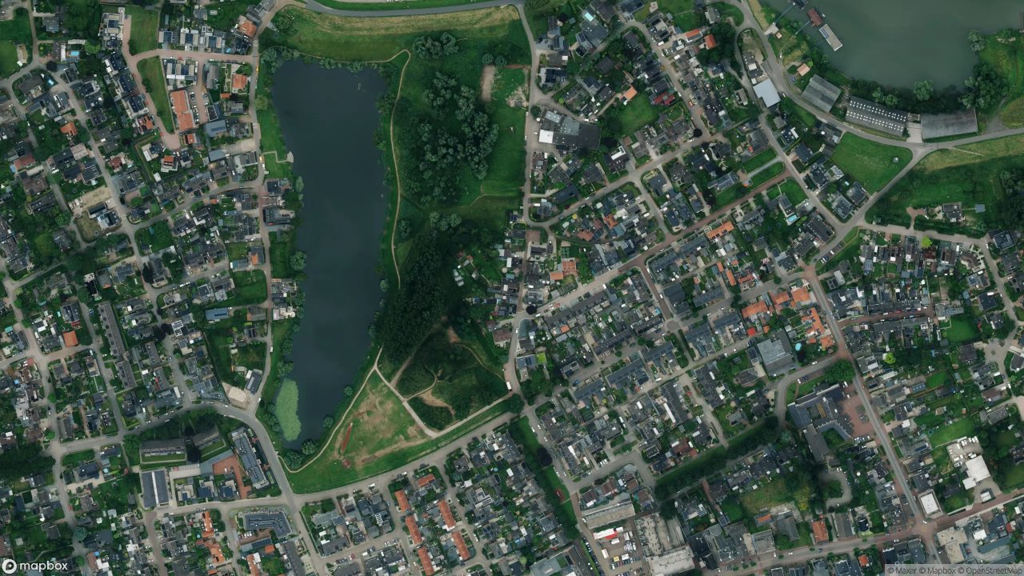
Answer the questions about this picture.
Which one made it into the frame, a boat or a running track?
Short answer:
boat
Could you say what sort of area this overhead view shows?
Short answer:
residential area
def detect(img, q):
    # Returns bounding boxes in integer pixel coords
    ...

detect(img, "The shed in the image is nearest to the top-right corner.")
[920,108,978,139]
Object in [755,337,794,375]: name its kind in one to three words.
building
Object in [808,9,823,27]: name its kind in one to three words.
boat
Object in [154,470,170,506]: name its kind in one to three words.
house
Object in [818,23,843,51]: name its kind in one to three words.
boat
